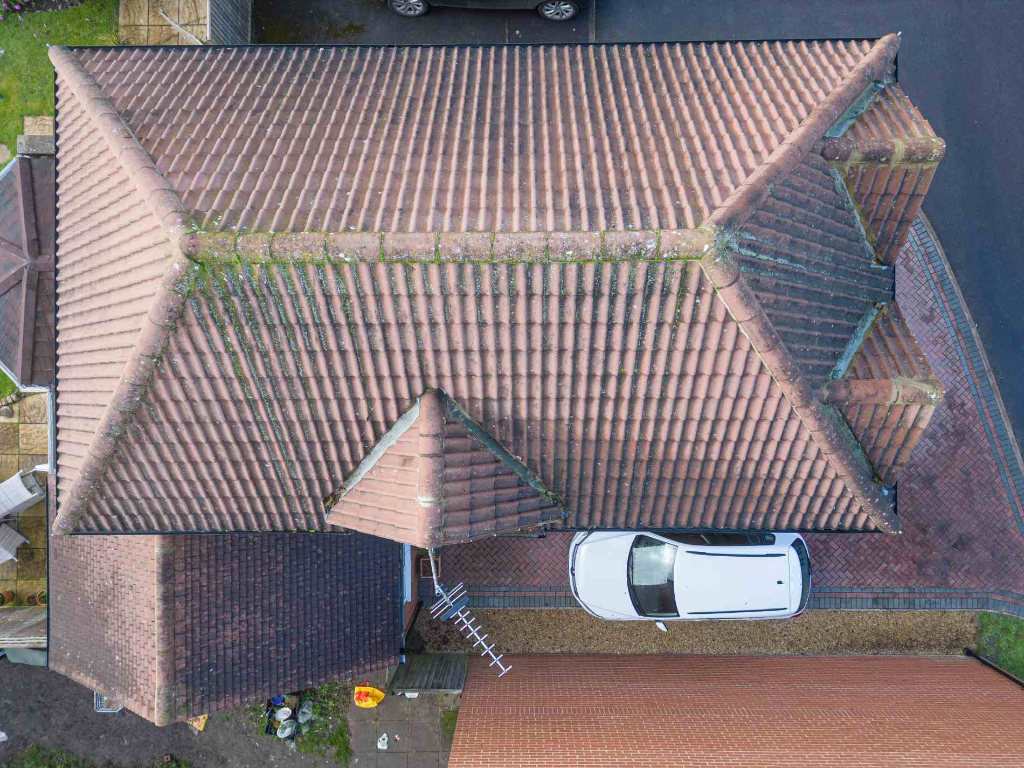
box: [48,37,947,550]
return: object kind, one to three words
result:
house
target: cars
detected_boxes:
[385,0,598,18]
[568,525,811,634]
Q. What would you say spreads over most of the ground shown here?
buildings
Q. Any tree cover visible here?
No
